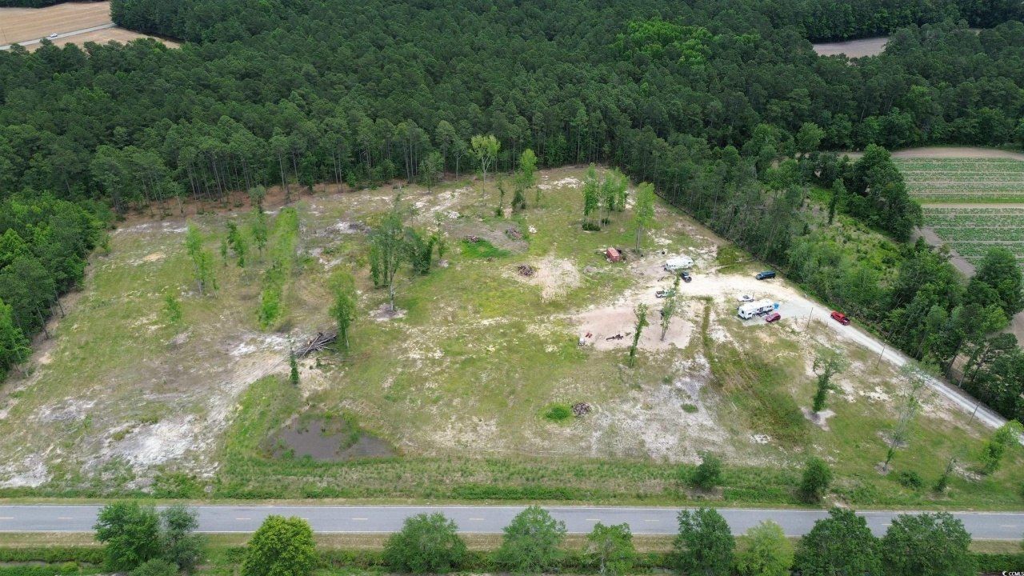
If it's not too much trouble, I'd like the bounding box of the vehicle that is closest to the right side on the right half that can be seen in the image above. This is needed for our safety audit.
[831,313,853,326]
